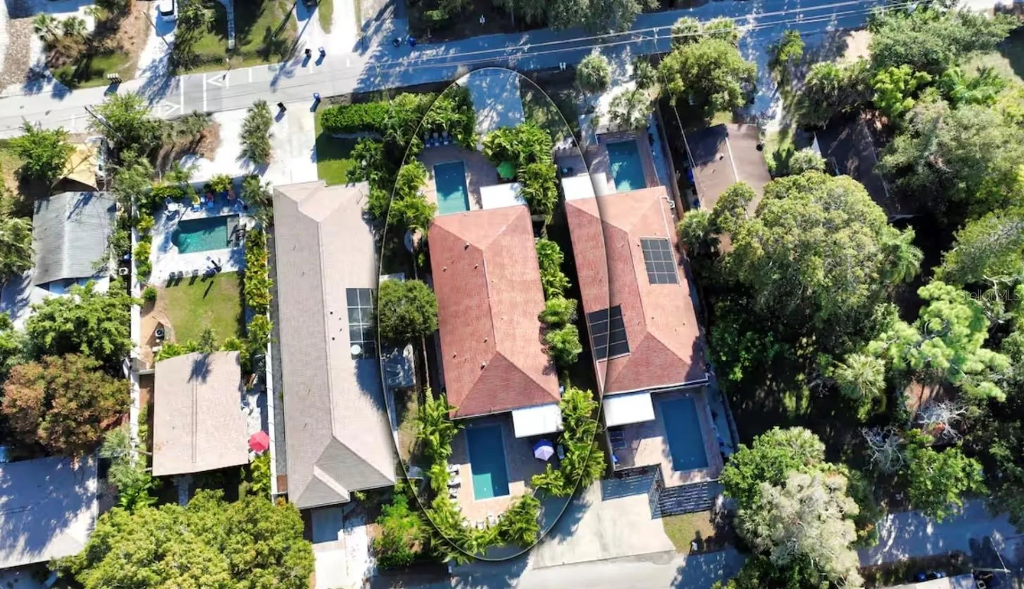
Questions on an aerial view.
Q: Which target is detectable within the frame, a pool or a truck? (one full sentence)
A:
Looking from above, you can make out a pool.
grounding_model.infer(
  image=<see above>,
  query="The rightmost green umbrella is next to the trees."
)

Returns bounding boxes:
[496,161,514,180]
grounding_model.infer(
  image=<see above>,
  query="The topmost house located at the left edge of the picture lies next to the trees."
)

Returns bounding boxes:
[34,192,124,288]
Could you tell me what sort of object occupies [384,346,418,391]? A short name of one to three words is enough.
shed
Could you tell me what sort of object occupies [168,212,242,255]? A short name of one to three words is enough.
swimming pool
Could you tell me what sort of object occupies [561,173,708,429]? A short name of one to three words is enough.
house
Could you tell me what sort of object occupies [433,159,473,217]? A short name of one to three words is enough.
swimming pool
